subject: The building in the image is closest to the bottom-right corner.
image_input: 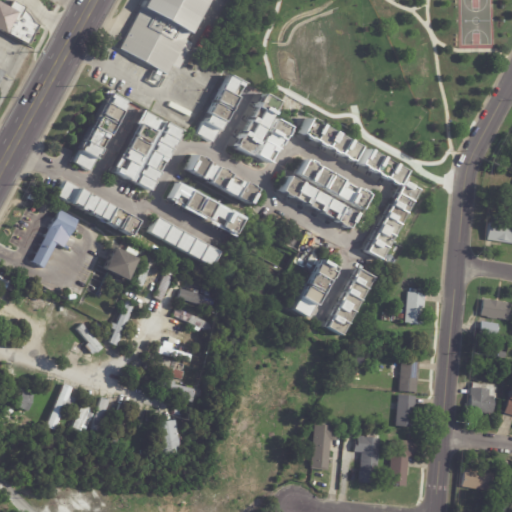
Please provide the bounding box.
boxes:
[459,472,495,488]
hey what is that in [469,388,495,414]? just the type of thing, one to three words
house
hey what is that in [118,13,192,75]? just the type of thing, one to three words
building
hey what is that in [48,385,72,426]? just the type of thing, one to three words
house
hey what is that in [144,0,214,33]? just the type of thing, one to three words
building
